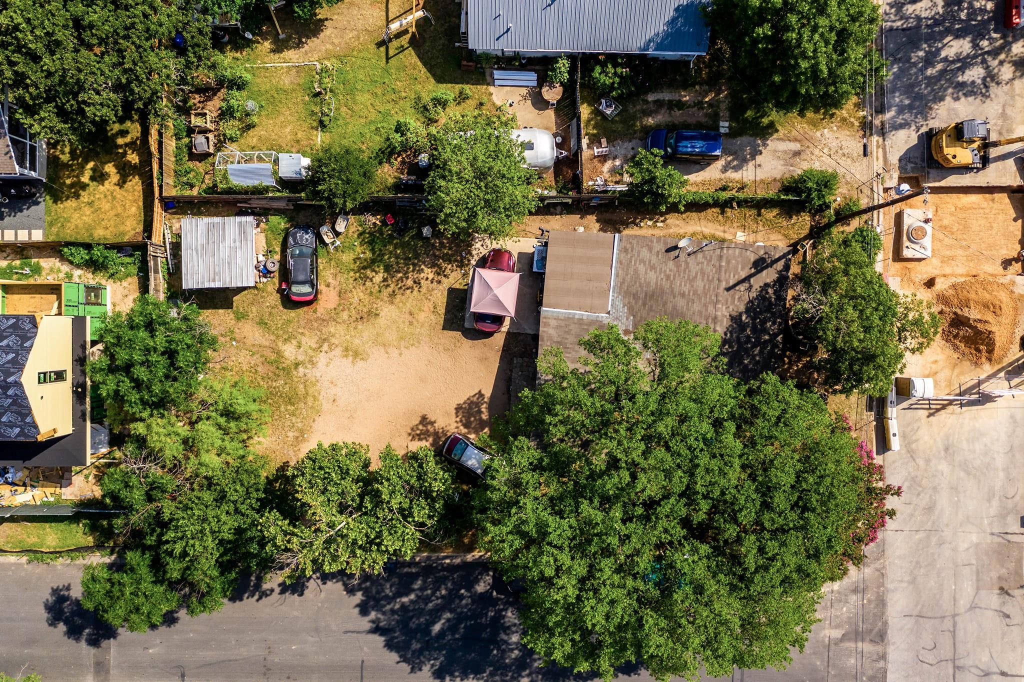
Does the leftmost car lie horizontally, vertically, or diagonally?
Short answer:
vertically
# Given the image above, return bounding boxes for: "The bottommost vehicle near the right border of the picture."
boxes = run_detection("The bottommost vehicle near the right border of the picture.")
[923,116,1024,171]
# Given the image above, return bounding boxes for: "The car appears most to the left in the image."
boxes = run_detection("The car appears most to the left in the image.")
[279,222,319,305]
